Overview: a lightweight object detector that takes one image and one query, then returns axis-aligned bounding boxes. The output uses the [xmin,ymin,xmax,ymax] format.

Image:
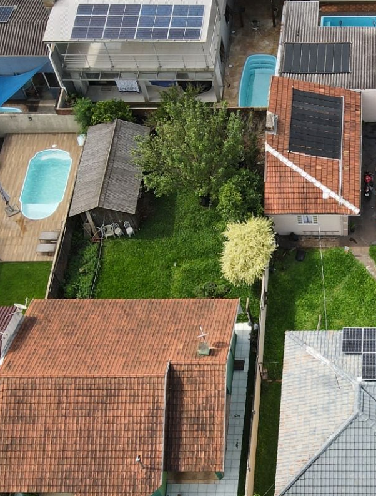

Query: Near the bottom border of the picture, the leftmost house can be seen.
[0,298,241,496]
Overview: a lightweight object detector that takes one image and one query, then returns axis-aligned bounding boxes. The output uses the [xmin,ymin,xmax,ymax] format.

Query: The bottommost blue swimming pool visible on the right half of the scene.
[239,54,278,106]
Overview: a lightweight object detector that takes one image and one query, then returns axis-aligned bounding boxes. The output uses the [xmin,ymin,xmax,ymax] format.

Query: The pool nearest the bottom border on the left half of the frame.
[20,149,73,219]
